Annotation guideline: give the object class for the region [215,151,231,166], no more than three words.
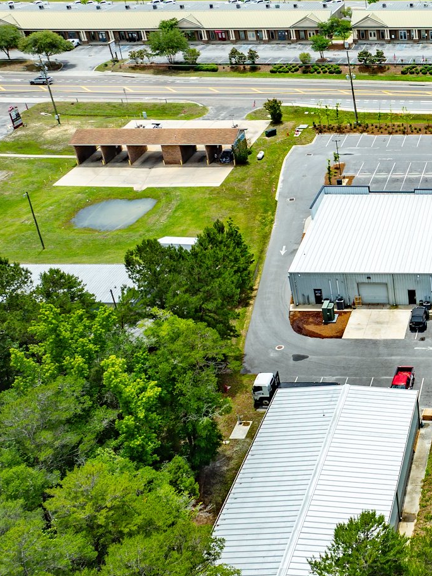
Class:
car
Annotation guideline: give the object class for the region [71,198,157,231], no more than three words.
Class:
pond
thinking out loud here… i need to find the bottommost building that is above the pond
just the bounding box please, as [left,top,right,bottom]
[65,129,246,166]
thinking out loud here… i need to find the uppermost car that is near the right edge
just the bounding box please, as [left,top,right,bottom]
[408,304,428,332]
